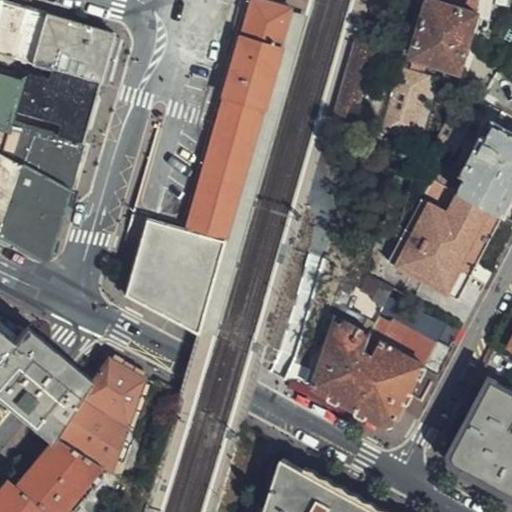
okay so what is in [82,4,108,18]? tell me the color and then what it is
white vehicle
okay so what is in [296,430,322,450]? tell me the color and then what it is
white vehicle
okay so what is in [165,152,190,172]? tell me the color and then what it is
gray car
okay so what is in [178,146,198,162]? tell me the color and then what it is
white car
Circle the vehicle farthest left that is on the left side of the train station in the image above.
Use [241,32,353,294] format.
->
[2,249,24,266]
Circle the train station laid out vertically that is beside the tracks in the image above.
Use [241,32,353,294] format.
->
[149,0,358,512]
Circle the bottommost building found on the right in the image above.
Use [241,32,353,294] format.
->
[260,454,394,512]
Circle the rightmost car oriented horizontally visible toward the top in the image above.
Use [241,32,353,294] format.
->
[188,65,211,78]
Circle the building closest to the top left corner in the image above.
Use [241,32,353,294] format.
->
[0,2,43,66]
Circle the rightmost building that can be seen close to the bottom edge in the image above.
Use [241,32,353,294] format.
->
[442,374,512,512]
